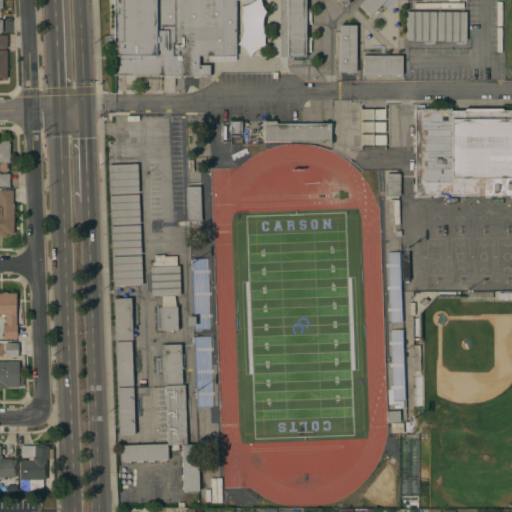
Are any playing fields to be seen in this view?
Yes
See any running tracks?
Yes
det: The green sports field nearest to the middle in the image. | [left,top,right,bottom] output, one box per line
[232,210,368,443]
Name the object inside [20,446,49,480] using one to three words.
house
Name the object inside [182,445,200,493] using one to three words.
building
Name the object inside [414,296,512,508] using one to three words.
baseball field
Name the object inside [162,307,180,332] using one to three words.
building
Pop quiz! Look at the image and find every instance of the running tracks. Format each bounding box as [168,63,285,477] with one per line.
[212,144,388,506]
